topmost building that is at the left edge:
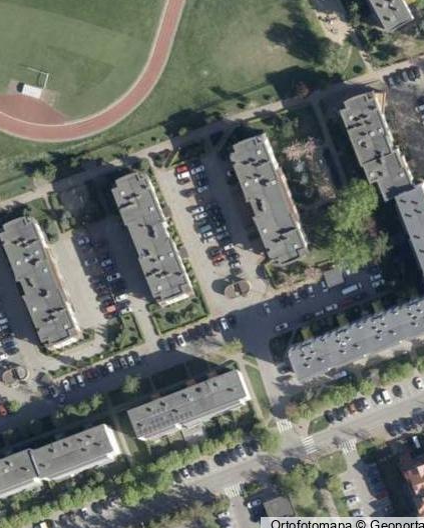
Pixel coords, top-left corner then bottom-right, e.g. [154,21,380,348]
[0,217,79,350]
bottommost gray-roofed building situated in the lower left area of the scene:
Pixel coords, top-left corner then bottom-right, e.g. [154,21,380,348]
[0,425,119,496]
